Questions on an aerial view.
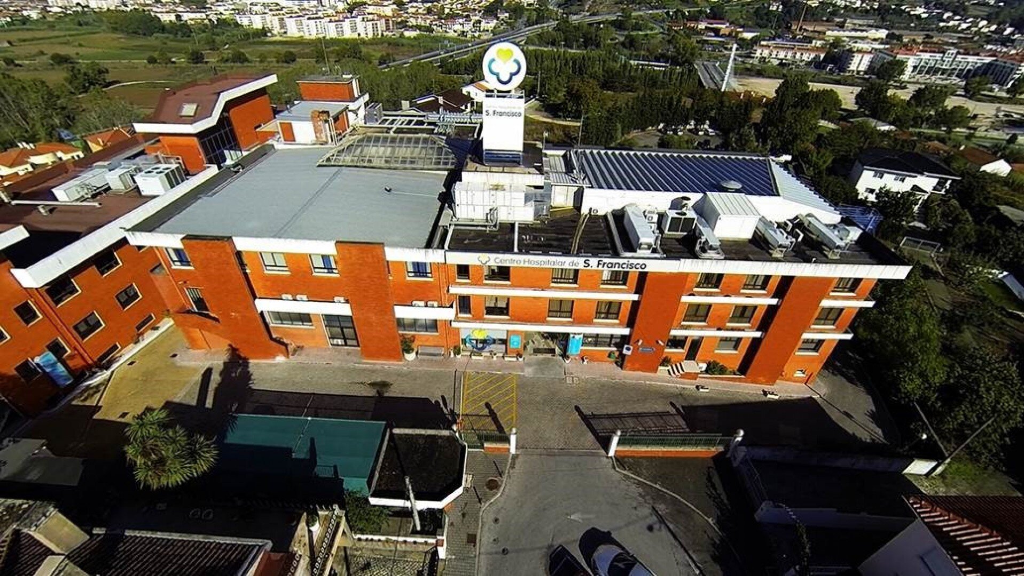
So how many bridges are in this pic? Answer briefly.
2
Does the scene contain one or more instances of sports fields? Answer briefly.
Yes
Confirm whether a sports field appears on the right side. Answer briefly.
Yes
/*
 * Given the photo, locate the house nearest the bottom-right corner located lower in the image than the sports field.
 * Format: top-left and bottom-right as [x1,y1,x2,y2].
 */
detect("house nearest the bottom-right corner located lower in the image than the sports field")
[868,493,1024,576]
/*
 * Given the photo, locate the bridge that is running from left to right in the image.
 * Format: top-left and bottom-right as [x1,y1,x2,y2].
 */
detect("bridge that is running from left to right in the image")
[371,9,683,61]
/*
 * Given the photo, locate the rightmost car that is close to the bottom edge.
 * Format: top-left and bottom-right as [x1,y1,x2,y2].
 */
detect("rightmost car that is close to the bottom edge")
[592,541,654,576]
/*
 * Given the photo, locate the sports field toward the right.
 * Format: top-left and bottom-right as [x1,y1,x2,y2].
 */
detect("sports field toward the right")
[895,250,952,300]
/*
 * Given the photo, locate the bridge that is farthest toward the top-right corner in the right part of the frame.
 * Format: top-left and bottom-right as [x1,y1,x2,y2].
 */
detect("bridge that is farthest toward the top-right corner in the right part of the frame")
[703,43,762,92]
